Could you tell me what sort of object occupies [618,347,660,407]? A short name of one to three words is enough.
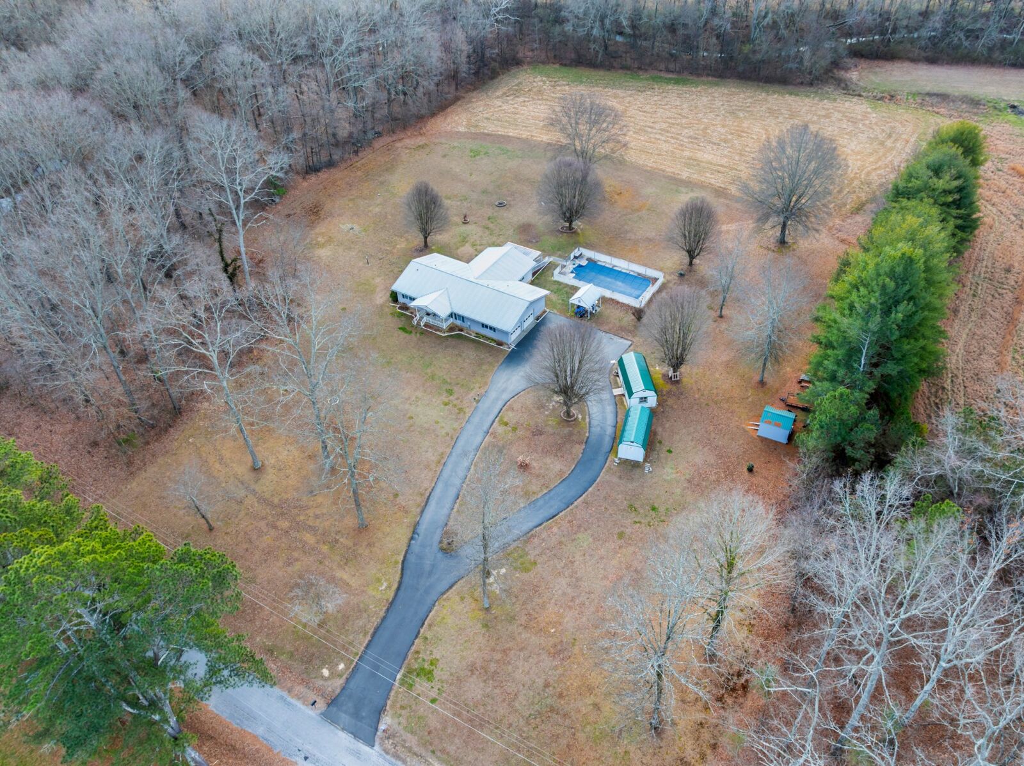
shed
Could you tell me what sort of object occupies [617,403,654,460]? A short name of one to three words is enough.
shed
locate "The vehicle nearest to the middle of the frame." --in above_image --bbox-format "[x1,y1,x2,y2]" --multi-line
[575,304,587,319]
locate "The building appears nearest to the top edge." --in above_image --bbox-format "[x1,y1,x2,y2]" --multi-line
[391,242,551,346]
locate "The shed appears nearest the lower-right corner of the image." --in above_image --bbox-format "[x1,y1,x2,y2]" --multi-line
[757,404,796,443]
